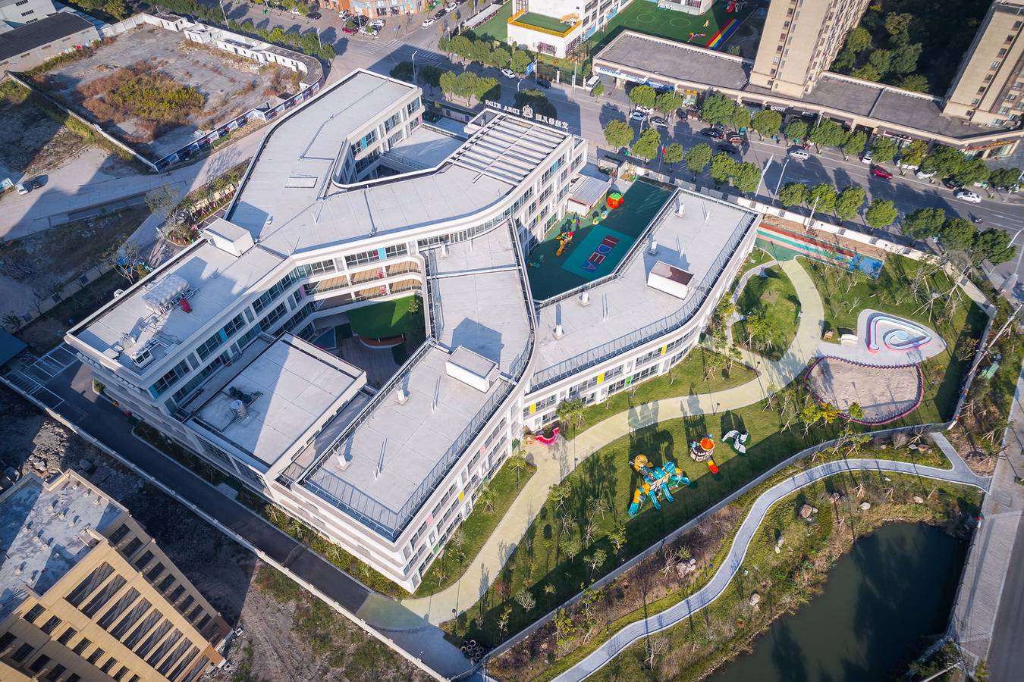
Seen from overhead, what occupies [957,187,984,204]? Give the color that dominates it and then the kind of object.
white car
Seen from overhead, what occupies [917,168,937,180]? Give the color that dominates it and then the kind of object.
white vehicle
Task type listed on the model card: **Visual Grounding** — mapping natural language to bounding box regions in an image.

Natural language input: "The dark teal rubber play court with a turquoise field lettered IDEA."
[561,224,636,279]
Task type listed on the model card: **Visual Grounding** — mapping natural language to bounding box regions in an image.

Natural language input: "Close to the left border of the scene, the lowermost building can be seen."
[0,460,234,682]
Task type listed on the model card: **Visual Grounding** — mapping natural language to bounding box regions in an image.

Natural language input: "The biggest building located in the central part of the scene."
[60,69,764,598]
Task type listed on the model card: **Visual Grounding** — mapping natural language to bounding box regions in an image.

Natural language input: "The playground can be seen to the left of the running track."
[526,172,641,275]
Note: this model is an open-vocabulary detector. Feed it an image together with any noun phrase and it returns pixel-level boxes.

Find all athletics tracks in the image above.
[757,221,886,279]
